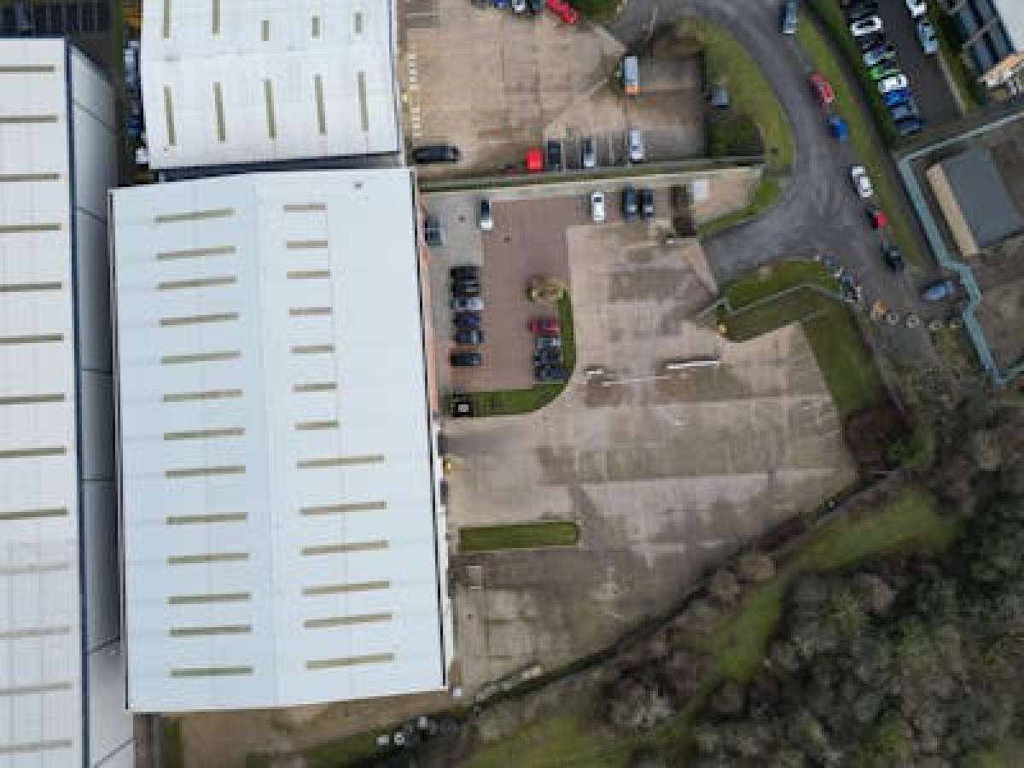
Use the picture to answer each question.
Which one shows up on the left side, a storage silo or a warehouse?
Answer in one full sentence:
The one visible on the left side is a warehouse.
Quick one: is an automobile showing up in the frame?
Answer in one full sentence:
Yes, I can see an automobile in this picture.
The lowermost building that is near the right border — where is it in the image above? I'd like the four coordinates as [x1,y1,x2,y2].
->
[928,143,1024,253]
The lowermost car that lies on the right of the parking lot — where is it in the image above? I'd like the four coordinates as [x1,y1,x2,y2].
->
[920,282,953,300]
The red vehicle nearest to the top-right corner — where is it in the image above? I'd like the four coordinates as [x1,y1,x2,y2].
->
[807,73,833,104]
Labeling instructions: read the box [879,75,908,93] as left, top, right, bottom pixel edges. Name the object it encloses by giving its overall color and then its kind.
white car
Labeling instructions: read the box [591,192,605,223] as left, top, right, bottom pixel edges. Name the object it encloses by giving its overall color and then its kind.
white car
